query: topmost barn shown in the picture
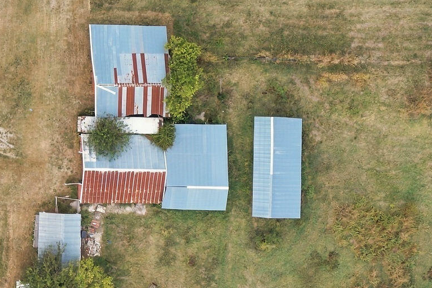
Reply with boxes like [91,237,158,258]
[89,24,171,117]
